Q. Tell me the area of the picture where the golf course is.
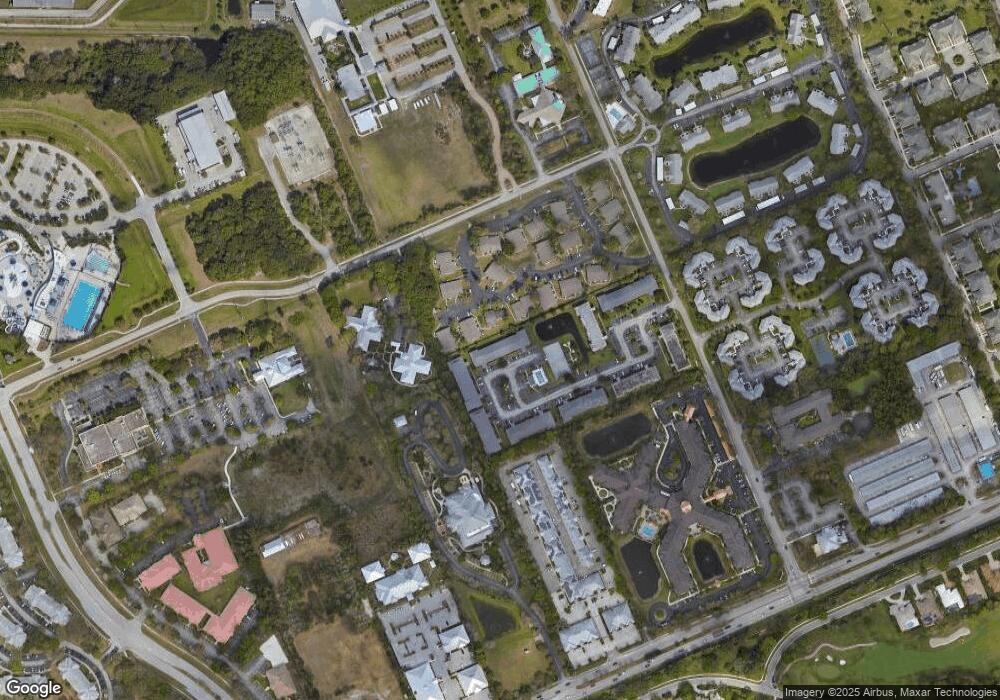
bottom right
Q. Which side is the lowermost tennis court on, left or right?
right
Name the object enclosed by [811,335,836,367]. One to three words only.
tennis court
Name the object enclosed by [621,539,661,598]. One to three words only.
pond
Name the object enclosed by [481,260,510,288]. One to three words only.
house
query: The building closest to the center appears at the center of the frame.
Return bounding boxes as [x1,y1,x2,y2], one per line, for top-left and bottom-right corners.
[470,330,530,366]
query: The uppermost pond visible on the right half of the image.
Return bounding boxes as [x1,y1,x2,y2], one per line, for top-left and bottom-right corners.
[652,8,775,78]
